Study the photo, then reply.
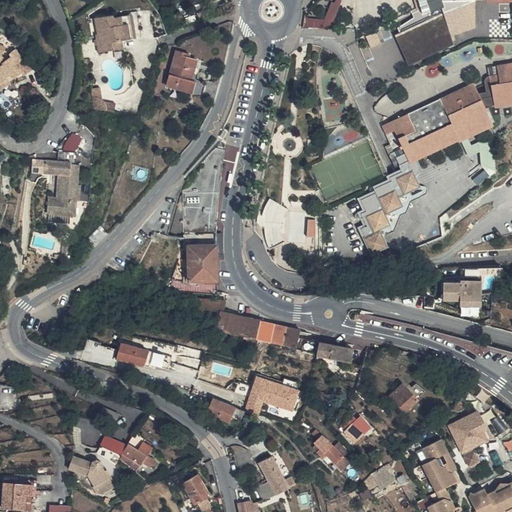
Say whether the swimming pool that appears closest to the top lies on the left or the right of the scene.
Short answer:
left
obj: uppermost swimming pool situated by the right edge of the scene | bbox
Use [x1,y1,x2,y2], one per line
[482,274,496,292]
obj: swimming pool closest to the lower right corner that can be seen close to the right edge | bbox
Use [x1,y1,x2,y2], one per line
[486,448,504,468]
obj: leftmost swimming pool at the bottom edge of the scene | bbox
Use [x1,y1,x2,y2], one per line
[298,492,312,508]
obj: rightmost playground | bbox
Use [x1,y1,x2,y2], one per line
[432,42,512,73]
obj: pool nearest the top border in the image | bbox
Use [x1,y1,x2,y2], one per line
[100,58,124,92]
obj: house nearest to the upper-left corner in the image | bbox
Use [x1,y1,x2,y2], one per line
[0,44,32,90]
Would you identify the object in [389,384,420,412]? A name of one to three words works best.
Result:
house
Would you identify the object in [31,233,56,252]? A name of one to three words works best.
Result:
swimming pool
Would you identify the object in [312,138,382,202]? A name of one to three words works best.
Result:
sports court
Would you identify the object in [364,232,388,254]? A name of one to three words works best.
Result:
building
